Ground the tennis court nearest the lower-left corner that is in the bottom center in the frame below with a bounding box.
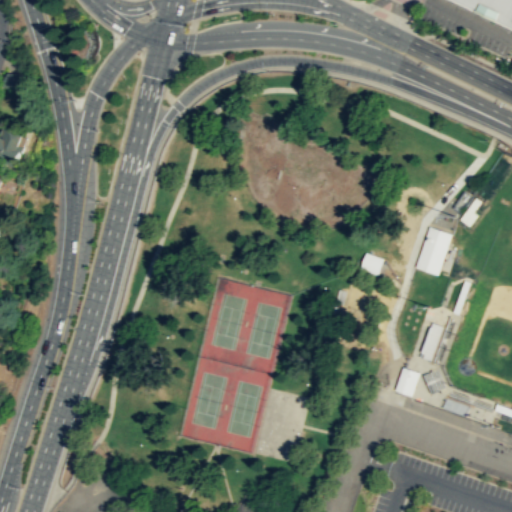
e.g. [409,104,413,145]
[192,372,228,430]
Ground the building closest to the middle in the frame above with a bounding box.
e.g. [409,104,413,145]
[360,252,384,276]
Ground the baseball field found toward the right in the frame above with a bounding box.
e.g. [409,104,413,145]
[459,285,512,406]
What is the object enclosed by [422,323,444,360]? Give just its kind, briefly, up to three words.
building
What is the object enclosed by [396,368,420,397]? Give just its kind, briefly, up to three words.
shed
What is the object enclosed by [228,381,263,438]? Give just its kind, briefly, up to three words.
tennis court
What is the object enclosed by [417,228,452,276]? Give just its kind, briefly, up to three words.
barn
